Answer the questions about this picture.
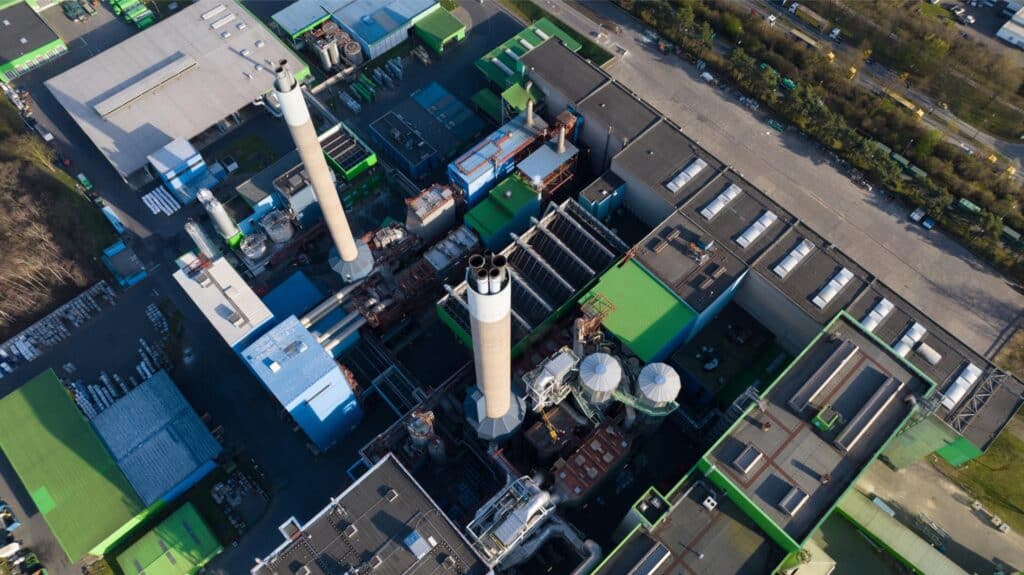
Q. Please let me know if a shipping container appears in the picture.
Yes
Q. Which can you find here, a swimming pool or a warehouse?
warehouse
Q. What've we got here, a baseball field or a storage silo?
storage silo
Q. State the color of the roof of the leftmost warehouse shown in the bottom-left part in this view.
green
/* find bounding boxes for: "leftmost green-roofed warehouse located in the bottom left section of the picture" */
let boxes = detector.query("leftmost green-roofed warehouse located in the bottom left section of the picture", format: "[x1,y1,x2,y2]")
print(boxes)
[0,365,156,564]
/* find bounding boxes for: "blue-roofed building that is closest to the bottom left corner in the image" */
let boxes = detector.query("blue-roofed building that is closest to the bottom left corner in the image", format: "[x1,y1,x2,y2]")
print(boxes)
[93,370,229,510]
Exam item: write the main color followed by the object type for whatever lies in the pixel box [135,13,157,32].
green vehicle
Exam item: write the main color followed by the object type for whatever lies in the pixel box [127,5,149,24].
green vehicle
